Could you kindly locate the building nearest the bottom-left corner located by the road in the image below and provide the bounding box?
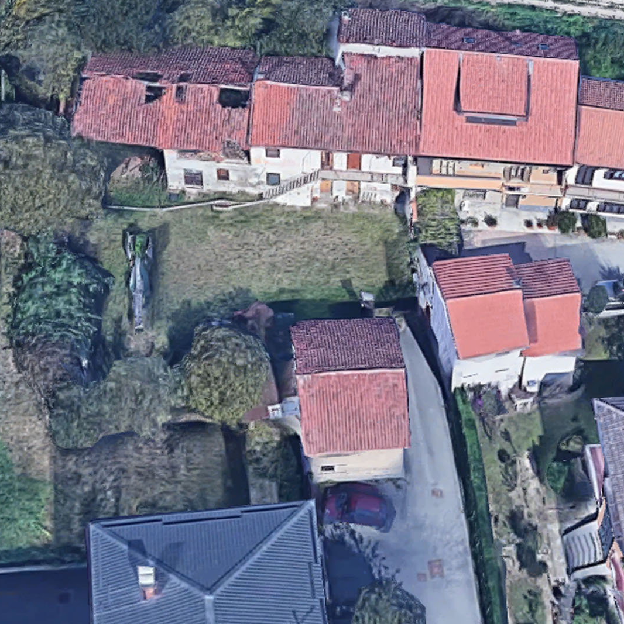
[87,499,335,624]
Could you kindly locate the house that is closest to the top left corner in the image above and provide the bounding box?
[74,46,259,194]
